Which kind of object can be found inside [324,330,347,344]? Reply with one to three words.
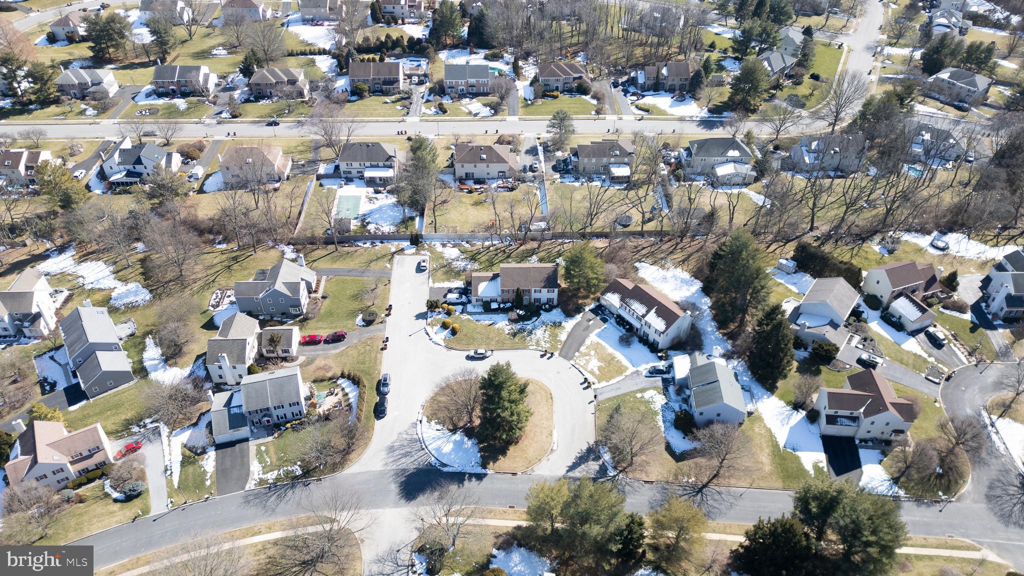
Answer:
car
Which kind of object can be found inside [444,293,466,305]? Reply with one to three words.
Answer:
vehicle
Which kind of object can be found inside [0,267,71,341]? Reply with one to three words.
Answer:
house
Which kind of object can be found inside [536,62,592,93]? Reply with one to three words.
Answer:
house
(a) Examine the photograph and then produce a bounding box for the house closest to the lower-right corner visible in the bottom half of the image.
[815,366,916,441]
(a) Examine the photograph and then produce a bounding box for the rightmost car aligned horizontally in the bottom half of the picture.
[860,354,884,367]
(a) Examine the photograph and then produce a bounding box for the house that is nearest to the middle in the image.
[464,259,562,306]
